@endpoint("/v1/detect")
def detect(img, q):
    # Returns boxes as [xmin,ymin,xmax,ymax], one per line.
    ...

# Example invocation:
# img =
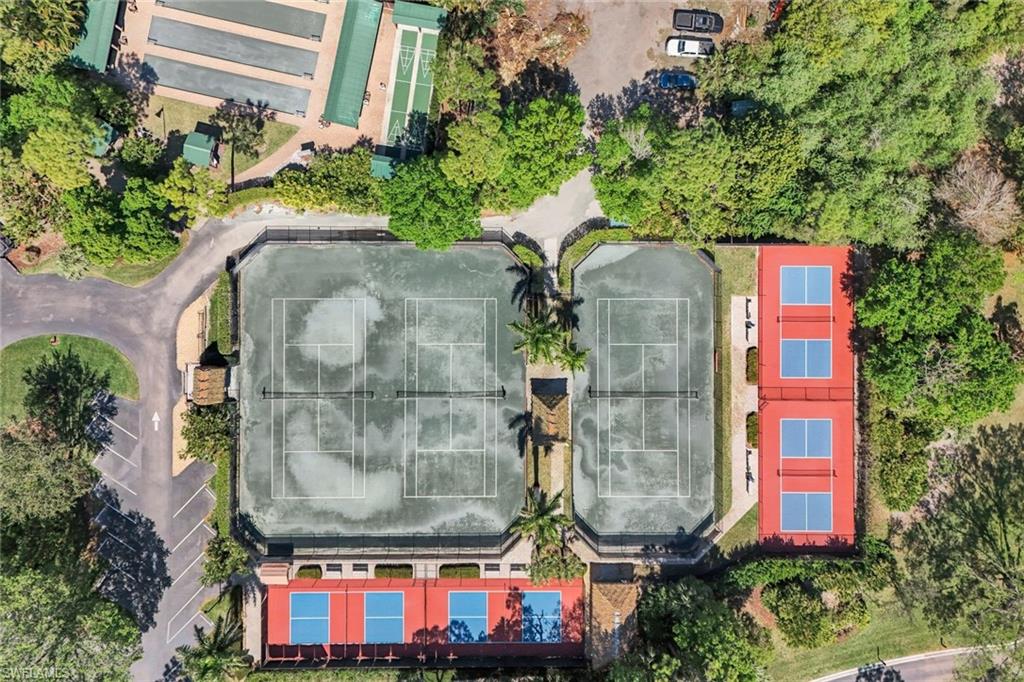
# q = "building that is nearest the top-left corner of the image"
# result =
[70,0,135,81]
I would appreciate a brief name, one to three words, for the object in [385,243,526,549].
tennis court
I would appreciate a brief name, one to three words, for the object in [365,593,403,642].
sports court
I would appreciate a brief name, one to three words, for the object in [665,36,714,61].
truck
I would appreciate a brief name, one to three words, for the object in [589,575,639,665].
building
